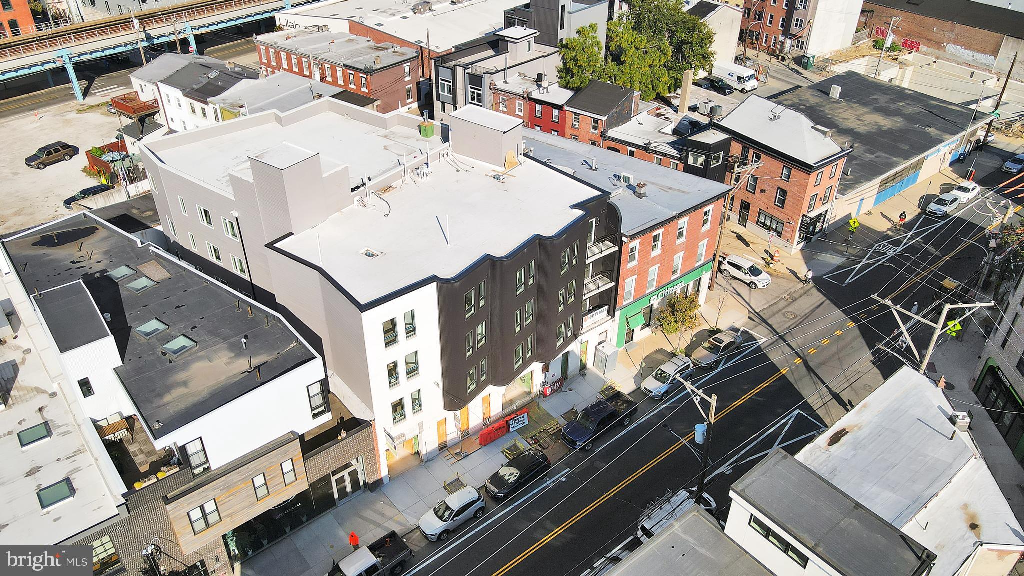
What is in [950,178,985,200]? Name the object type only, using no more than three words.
car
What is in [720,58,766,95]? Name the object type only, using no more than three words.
truck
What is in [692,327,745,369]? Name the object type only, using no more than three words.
car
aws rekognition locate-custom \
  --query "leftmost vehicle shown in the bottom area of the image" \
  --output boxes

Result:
[314,525,413,576]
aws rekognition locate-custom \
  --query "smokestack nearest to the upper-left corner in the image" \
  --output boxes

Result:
[223,54,237,69]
